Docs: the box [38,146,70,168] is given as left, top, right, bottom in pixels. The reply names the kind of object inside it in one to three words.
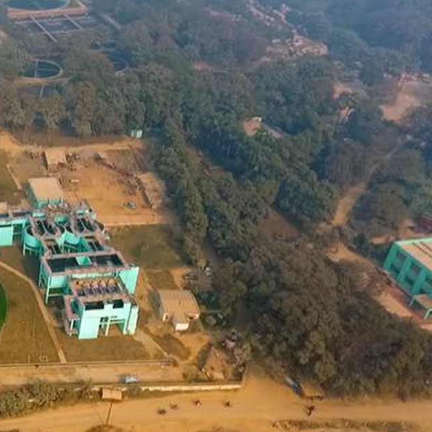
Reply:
shed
